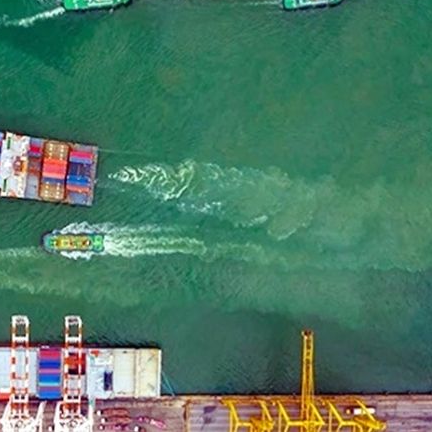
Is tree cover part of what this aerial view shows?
No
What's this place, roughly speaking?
port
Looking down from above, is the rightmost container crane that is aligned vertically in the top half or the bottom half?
bottom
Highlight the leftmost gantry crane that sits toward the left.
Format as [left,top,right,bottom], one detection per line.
[0,313,46,432]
